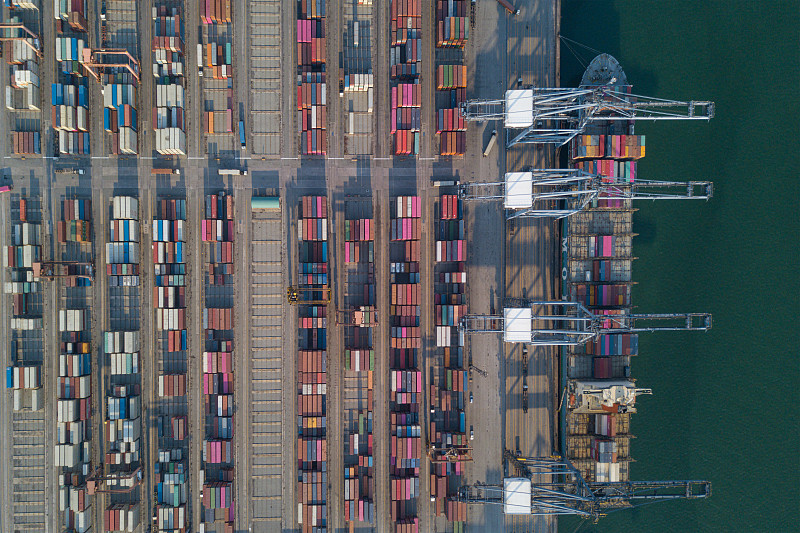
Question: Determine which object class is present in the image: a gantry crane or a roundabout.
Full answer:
It is a gantry crane that can be seen here.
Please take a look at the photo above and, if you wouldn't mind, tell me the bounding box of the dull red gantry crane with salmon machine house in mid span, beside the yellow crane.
[333,304,383,326]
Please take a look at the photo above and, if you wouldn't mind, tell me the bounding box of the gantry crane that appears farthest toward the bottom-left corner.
[81,461,148,493]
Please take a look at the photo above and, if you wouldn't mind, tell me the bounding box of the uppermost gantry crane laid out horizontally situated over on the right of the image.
[460,84,717,162]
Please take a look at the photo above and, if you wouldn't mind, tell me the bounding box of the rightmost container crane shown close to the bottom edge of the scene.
[460,431,715,527]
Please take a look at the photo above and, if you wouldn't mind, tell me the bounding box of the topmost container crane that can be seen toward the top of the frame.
[0,23,48,57]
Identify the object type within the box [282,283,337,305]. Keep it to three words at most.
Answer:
container crane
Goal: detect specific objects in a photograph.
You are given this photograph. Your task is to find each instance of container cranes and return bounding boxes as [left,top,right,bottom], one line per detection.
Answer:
[0,23,48,57]
[460,166,716,231]
[81,461,148,493]
[333,304,383,326]
[80,49,146,80]
[428,433,478,463]
[460,431,715,527]
[28,259,99,281]
[460,285,716,346]
[282,283,337,305]
[460,84,717,162]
